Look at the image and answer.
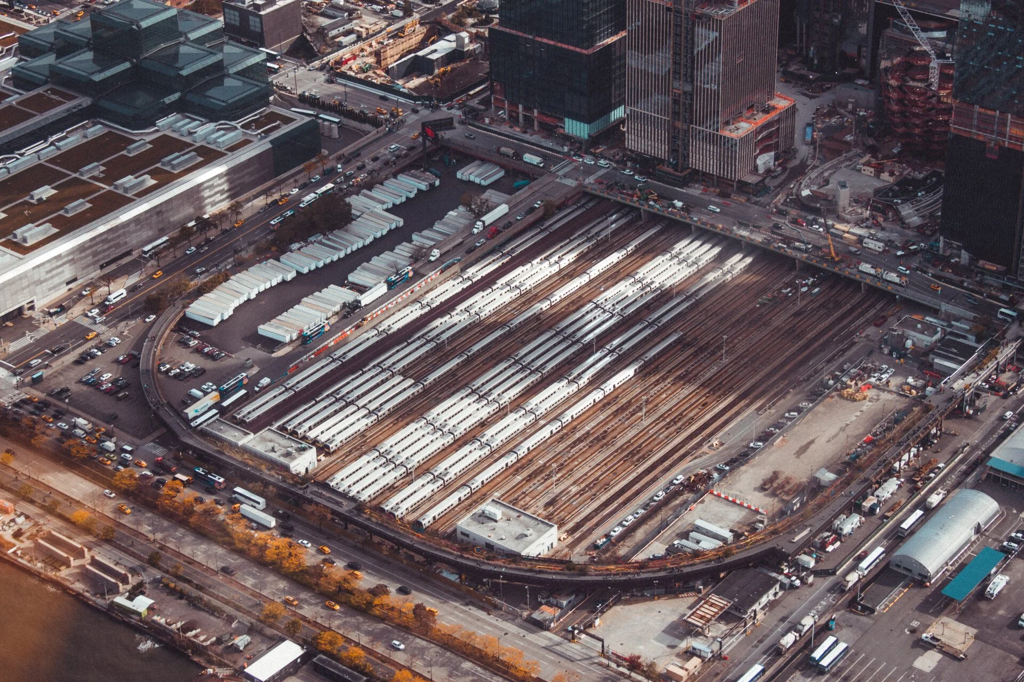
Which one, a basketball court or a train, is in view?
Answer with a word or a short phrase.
train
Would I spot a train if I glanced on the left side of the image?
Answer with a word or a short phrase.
Yes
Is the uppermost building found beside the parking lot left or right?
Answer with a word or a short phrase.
left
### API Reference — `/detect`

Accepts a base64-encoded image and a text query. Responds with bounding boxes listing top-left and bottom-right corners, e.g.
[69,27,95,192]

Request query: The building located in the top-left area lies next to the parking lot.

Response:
[0,0,311,333]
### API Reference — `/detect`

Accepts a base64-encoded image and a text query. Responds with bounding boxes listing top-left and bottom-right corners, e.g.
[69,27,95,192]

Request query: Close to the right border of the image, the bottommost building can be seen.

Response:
[890,485,1005,584]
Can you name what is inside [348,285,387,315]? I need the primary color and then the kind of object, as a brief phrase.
white truck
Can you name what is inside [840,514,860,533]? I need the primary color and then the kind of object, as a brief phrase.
white vehicle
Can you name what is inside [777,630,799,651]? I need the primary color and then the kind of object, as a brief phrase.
white truck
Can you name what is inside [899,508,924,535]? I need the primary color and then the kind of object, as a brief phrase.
white bus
